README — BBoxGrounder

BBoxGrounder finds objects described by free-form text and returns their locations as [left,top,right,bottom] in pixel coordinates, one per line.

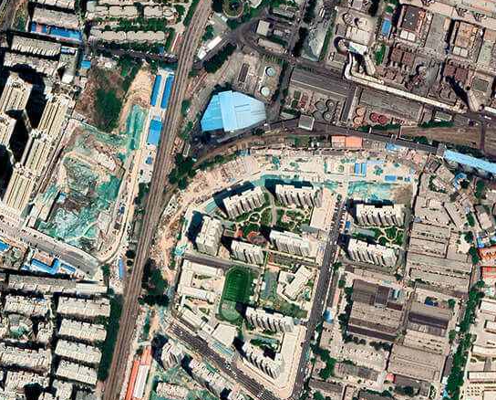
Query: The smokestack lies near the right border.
[466,87,480,113]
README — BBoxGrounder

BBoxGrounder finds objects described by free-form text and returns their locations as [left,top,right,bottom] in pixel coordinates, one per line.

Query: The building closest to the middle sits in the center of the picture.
[223,188,268,225]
